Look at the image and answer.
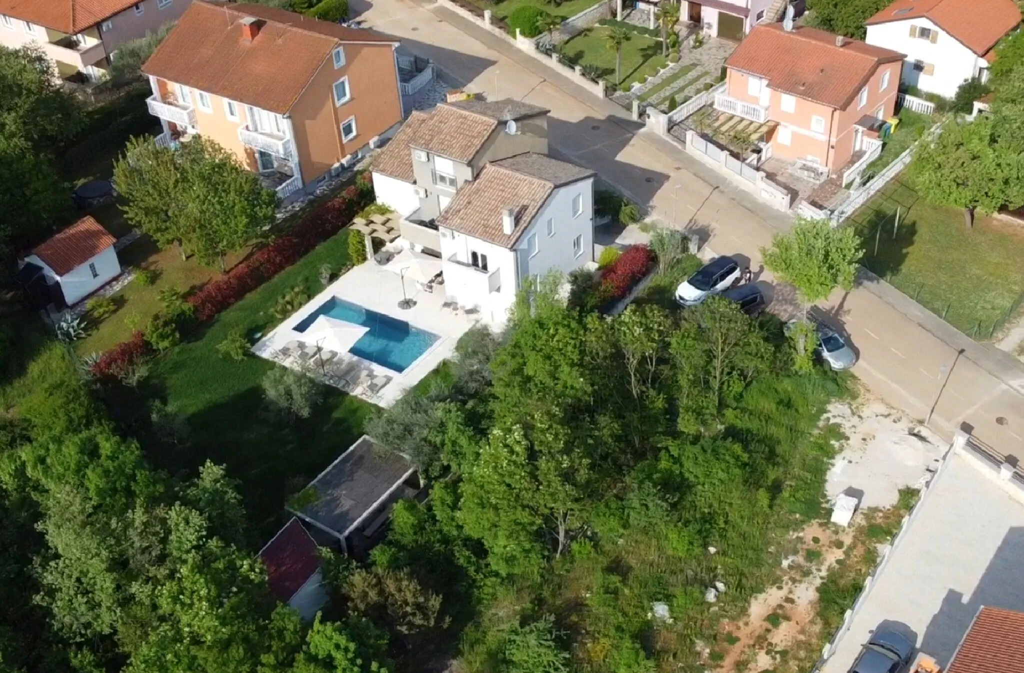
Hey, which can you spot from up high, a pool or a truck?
pool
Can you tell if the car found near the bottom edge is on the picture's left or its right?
right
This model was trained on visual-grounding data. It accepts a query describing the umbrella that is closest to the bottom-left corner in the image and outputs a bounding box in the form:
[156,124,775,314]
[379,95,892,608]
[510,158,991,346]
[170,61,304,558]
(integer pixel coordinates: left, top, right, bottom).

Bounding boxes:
[299,312,372,380]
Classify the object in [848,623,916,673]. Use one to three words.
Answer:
car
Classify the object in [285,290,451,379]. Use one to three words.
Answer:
swimming pool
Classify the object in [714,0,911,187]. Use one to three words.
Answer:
house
